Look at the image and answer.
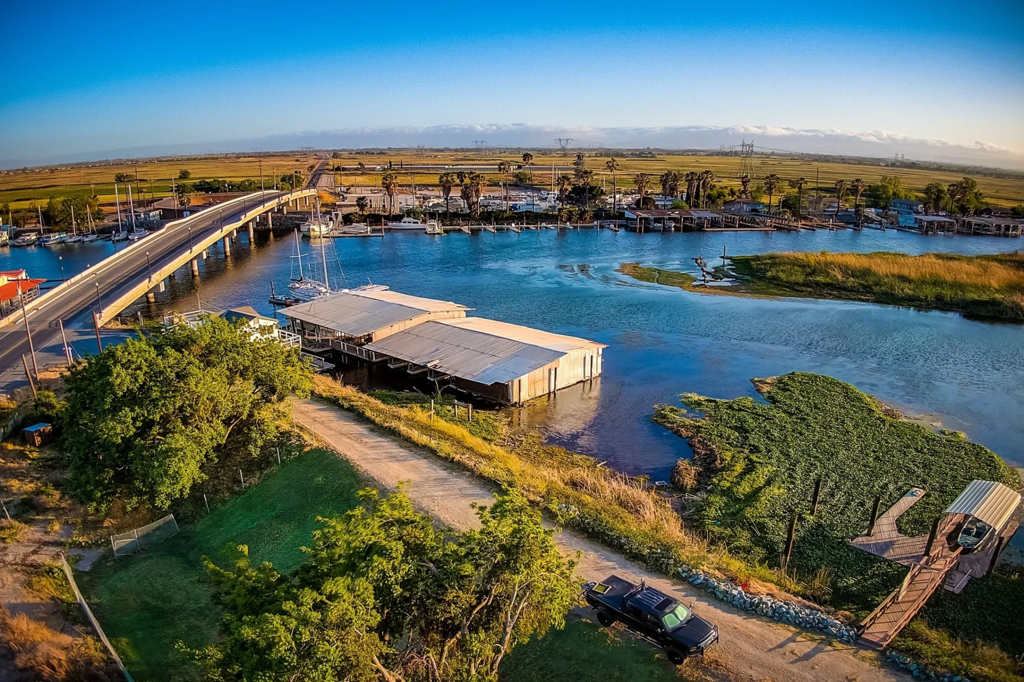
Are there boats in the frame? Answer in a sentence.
Yes, the frame does contain a boat.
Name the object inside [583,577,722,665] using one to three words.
truck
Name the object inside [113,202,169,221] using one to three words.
building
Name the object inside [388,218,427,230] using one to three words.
boat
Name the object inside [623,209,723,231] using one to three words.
shed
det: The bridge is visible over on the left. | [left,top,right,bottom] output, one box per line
[0,188,316,380]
